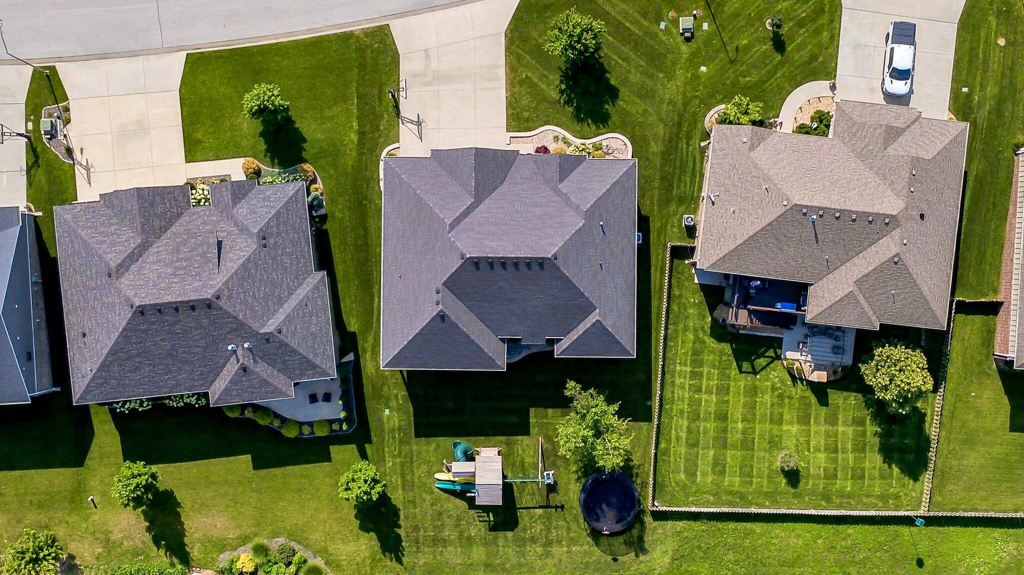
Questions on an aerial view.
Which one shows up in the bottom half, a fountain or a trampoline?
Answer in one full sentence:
Visible in the bottom half is a trampoline.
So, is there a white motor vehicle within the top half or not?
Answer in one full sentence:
Yes, you'll find a white motor vehicle within the top half.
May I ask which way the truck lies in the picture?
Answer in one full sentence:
In this picture, the truck is oriented vertically.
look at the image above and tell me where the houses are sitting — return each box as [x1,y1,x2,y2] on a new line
[990,151,1024,363]
[0,208,65,405]
[380,146,638,371]
[52,178,354,408]
[681,98,972,332]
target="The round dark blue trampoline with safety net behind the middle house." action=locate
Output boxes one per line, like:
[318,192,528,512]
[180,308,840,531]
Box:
[579,470,641,536]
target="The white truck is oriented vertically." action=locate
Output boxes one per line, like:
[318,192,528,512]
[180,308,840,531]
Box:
[882,20,919,97]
